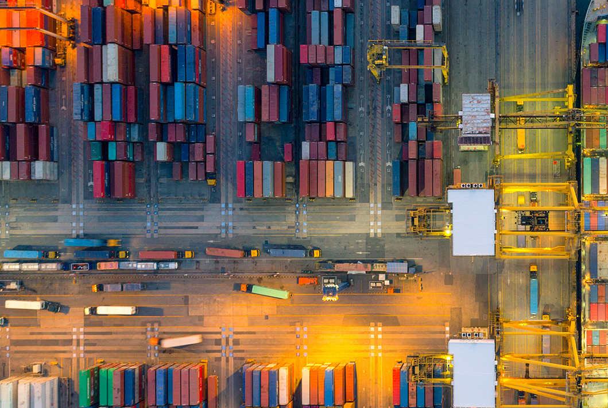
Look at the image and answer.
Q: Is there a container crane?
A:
Yes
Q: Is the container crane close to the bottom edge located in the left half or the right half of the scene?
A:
right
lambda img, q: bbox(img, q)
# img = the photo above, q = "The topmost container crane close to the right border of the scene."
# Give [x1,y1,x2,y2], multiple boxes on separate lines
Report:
[415,79,608,175]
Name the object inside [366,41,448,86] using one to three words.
container crane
